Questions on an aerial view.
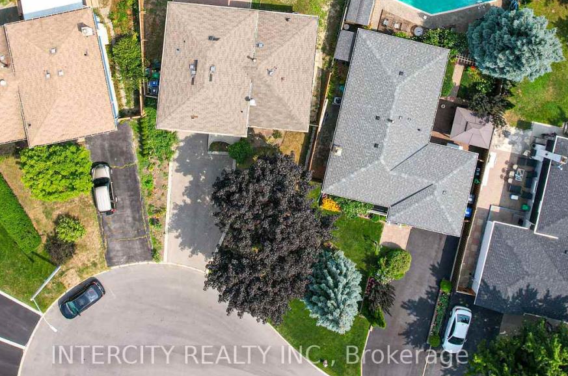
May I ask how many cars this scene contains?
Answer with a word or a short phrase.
three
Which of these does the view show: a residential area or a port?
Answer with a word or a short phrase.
residential area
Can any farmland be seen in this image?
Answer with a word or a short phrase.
No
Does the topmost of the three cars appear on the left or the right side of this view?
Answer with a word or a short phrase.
left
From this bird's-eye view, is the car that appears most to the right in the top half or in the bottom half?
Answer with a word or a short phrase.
bottom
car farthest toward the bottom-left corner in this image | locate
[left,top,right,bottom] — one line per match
[61,280,109,318]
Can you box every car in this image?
[89,161,120,215]
[61,280,109,318]
[441,306,469,353]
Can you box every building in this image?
[155,0,319,138]
[343,0,373,24]
[0,6,123,148]
[323,27,480,238]
[470,135,568,323]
